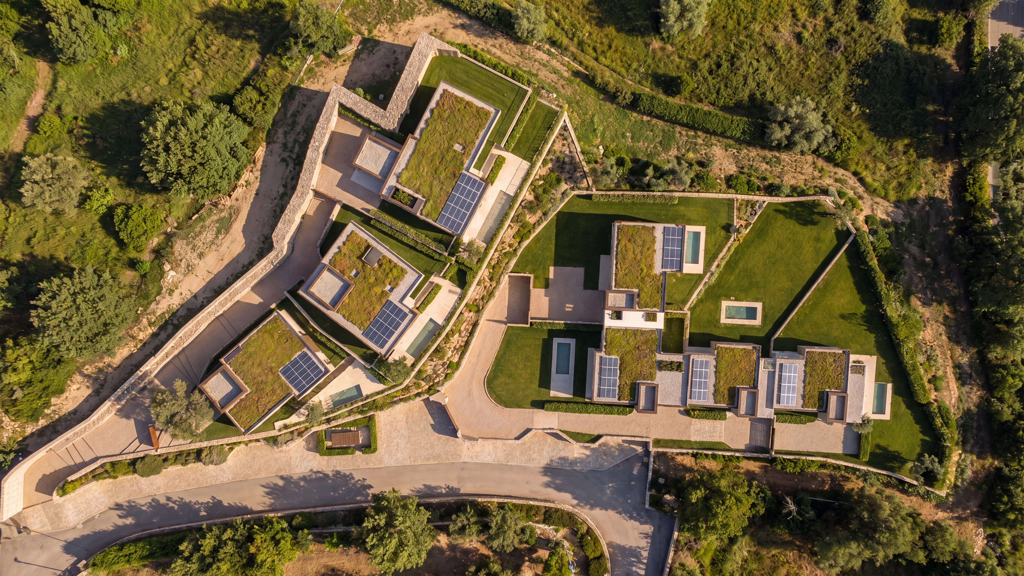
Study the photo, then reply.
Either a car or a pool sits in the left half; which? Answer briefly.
pool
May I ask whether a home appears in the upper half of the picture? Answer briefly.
Yes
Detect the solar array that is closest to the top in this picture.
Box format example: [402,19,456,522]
[437,172,484,233]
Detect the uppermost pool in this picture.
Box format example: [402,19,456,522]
[474,188,515,246]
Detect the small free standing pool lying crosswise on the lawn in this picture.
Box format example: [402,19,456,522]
[723,304,759,321]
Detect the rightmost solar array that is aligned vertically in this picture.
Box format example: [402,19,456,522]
[780,364,798,405]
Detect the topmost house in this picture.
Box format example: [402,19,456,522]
[353,80,501,240]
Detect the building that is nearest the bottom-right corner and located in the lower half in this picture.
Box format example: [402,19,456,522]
[765,344,867,423]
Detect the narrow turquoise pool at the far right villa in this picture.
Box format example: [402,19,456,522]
[871,381,889,416]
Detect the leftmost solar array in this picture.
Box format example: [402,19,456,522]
[280,351,323,393]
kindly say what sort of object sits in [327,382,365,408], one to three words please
swimming pool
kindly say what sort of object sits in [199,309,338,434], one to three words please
house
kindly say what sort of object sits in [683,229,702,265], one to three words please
swimming pool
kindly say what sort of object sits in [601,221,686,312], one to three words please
house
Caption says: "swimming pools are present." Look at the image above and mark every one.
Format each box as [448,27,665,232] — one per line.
[554,341,572,376]
[327,382,365,408]
[403,315,444,360]
[683,229,702,265]
[723,304,759,321]
[474,188,515,246]
[871,381,889,416]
